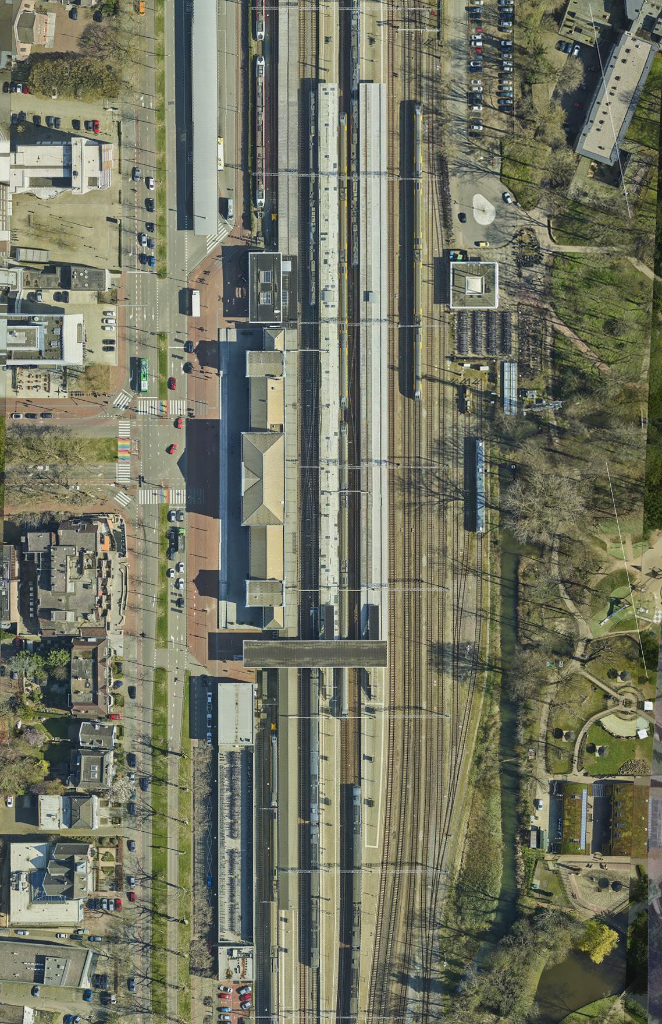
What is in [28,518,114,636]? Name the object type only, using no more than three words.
building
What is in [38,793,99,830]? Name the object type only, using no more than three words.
house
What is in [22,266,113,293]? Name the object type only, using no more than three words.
building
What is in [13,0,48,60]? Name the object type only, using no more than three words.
house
